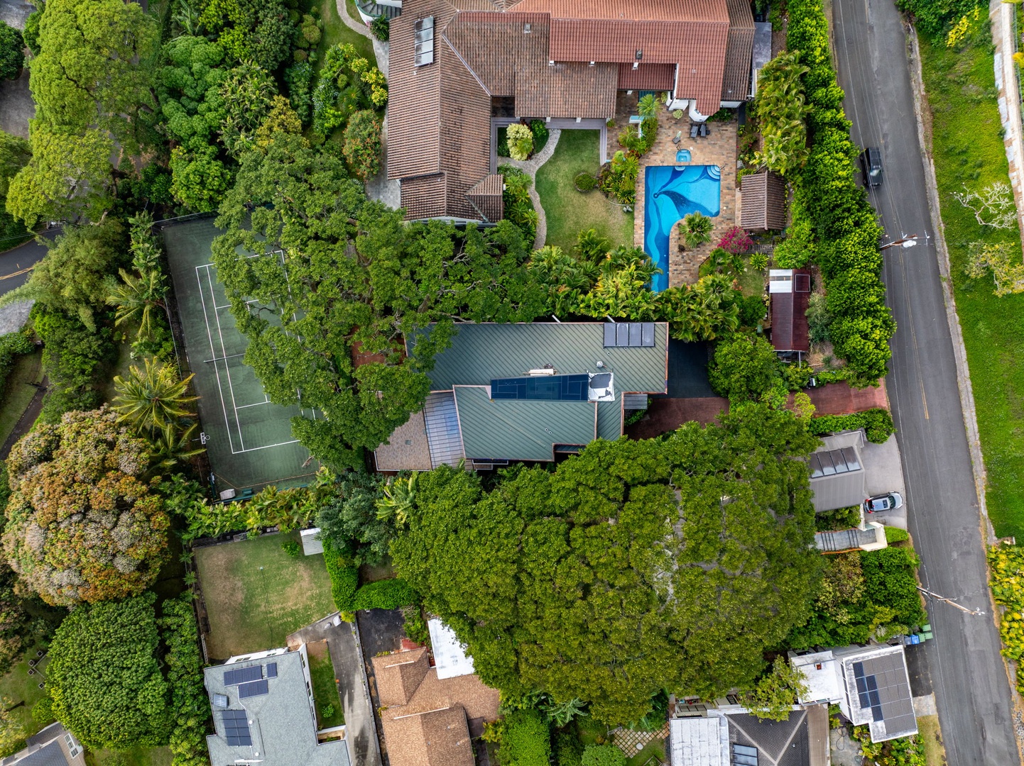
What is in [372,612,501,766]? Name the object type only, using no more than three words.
house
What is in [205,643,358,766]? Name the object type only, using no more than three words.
house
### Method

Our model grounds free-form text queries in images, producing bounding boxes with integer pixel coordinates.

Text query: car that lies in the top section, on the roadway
[863,146,886,184]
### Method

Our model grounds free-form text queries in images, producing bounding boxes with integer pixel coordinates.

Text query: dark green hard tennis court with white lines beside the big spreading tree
[163,198,354,495]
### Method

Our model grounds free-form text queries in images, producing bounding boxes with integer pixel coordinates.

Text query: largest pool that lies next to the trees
[641,163,722,300]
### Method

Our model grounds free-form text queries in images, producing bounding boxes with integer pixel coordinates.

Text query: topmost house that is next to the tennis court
[386,0,776,224]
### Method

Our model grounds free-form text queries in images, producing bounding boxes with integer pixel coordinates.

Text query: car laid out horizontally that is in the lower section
[865,494,905,514]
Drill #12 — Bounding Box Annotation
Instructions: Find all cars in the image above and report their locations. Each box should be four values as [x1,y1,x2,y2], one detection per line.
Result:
[863,146,886,184]
[865,494,905,514]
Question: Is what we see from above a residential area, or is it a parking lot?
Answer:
residential area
